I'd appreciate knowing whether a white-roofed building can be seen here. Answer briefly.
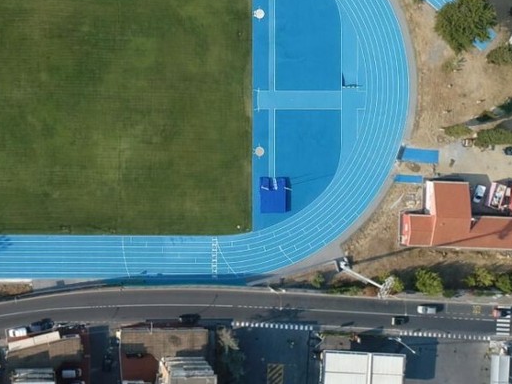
Yes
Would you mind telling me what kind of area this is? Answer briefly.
sports ground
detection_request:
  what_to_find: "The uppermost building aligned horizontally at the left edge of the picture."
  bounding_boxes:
[7,331,84,371]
